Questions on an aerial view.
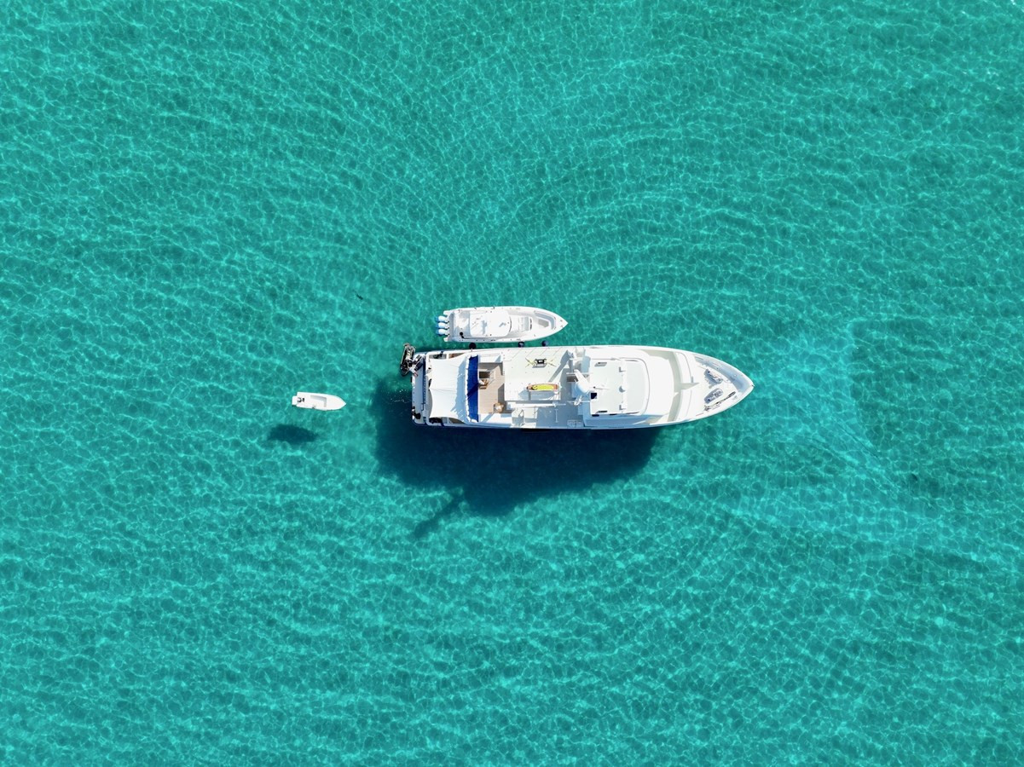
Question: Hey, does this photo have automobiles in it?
No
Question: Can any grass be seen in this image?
No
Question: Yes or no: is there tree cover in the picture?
No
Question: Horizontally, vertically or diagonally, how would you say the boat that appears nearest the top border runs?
horizontally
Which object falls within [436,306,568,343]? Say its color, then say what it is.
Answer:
white boat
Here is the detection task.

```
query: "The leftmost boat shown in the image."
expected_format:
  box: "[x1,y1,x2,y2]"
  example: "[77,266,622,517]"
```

[289,392,347,411]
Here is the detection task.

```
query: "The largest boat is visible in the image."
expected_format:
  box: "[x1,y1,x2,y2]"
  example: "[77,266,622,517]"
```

[413,345,754,429]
